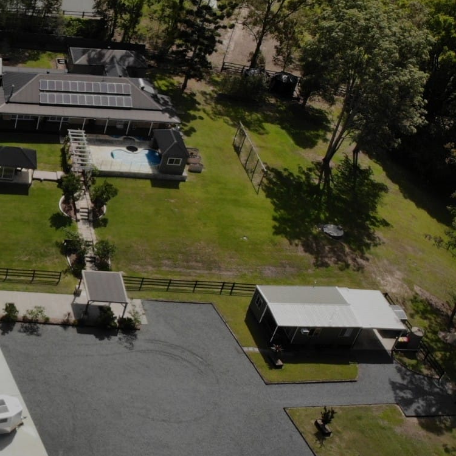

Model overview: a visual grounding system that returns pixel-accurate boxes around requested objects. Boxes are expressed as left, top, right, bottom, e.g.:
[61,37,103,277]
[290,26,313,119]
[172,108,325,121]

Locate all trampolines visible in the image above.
[321,223,347,239]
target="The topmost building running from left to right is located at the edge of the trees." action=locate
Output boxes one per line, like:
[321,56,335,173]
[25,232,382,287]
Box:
[0,47,180,133]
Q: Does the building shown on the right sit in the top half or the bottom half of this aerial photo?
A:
bottom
